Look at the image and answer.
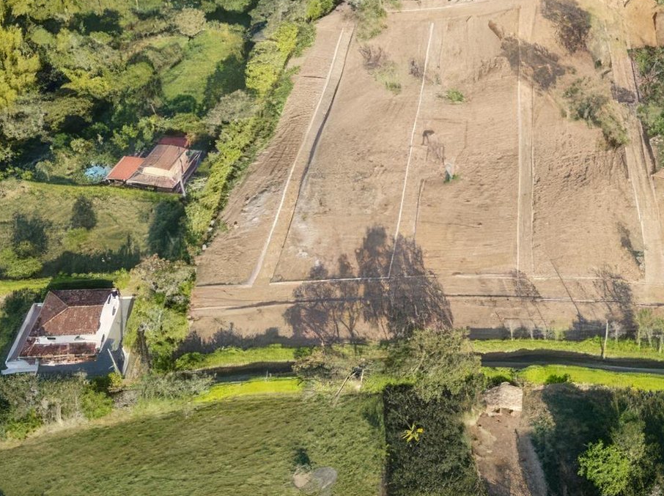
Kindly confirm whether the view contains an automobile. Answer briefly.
No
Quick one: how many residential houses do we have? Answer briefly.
2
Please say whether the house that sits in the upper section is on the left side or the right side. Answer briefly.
left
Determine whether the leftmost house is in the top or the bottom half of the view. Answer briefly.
bottom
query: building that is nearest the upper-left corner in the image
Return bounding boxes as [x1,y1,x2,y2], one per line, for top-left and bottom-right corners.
[106,136,201,198]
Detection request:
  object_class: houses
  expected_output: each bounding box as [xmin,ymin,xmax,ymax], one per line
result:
[106,136,201,198]
[3,288,125,380]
